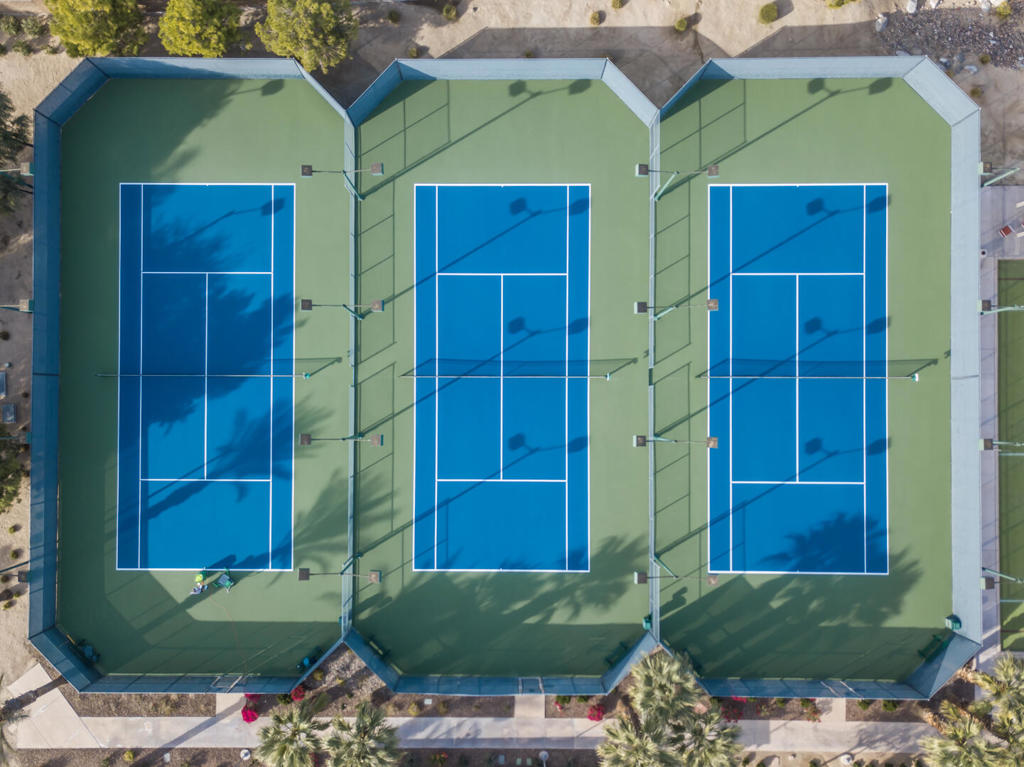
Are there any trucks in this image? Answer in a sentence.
No, no truck is visible in the view.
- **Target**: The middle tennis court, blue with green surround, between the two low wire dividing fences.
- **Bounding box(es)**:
[352,79,649,678]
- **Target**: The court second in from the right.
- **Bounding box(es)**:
[650,78,954,683]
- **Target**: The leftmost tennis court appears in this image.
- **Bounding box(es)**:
[56,79,354,676]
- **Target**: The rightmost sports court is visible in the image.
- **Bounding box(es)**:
[996,259,1024,653]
